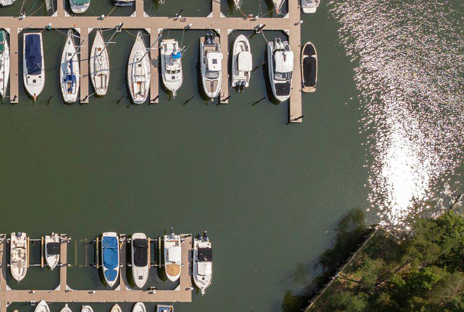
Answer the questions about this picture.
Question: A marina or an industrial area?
marina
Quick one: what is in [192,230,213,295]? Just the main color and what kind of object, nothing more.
white boat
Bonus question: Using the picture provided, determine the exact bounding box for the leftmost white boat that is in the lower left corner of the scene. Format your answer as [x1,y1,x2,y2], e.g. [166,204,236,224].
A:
[11,229,28,284]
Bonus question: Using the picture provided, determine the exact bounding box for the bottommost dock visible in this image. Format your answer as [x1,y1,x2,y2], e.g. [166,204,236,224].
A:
[0,234,192,312]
